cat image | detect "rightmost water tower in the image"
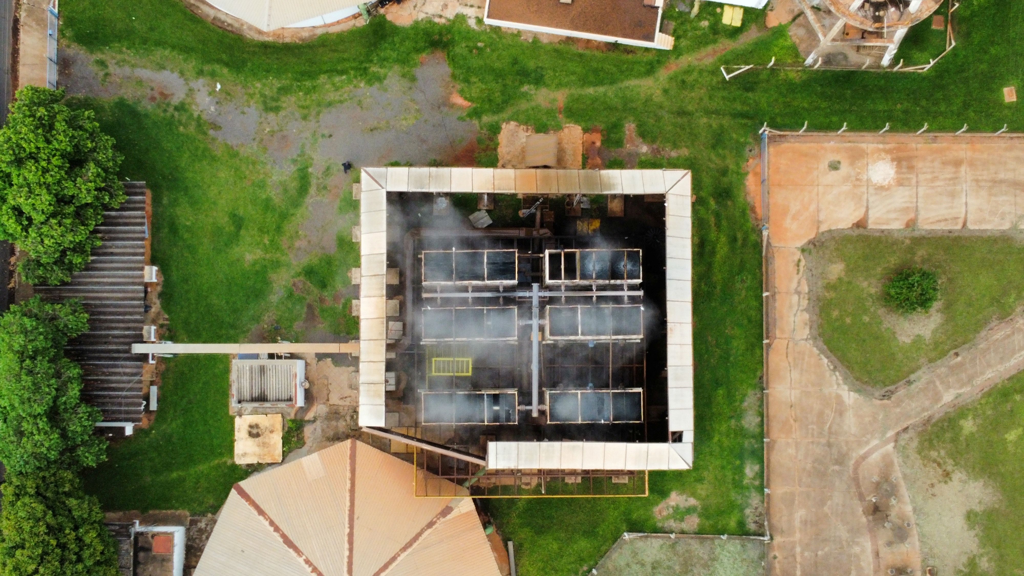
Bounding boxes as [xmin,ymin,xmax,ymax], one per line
[798,0,947,69]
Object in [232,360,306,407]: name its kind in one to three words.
shed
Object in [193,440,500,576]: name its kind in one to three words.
building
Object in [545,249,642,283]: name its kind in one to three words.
water tank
